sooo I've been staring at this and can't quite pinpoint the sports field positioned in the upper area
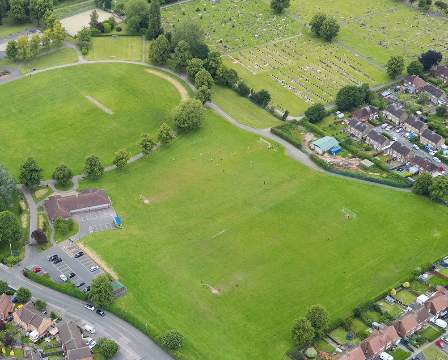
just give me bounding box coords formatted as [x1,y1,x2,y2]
[83,36,142,60]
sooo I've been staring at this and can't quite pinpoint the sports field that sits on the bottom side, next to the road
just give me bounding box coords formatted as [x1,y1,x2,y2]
[80,112,448,360]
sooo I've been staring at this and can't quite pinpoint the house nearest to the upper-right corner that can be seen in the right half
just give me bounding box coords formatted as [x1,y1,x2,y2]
[428,67,448,91]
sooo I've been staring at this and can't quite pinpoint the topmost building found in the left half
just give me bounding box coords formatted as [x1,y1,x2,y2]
[45,192,118,231]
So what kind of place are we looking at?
sports ground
